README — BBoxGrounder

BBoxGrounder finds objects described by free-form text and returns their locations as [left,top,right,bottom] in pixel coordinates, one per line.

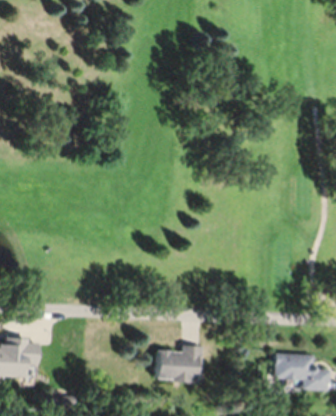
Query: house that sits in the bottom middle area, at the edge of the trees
[156,346,203,384]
